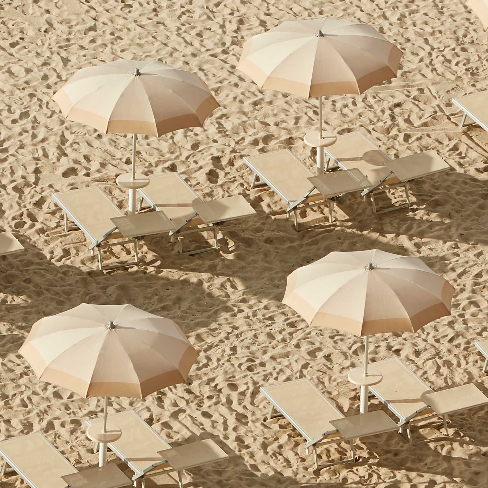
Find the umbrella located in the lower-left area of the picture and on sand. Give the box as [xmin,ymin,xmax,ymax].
[19,304,200,467]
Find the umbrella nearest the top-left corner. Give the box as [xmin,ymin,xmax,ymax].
[52,59,222,214]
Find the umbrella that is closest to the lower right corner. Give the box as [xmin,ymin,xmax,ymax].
[282,250,456,415]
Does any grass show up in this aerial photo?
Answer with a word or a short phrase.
No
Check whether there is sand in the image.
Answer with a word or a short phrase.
Yes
